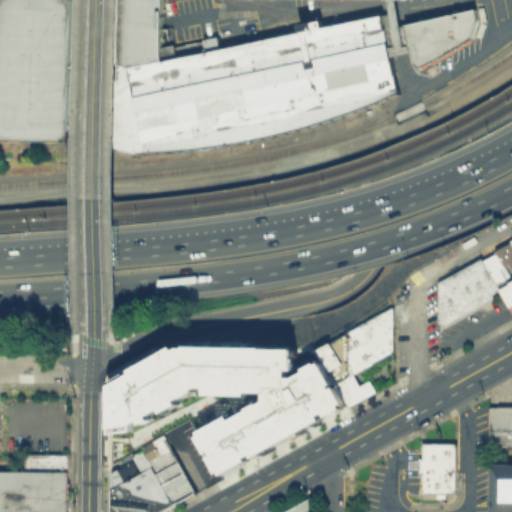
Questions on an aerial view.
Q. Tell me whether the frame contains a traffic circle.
No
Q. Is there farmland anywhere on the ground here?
No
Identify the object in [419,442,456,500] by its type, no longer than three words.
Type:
building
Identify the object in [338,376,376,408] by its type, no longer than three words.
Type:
building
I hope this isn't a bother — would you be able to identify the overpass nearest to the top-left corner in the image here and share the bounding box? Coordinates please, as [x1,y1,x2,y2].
[68,0,114,337]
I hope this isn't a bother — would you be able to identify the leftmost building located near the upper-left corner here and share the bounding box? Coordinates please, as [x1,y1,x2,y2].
[0,0,67,139]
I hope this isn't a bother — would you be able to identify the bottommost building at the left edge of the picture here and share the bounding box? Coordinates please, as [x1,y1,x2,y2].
[0,472,68,512]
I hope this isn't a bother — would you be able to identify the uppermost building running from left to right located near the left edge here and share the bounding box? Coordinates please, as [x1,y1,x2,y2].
[25,454,68,470]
